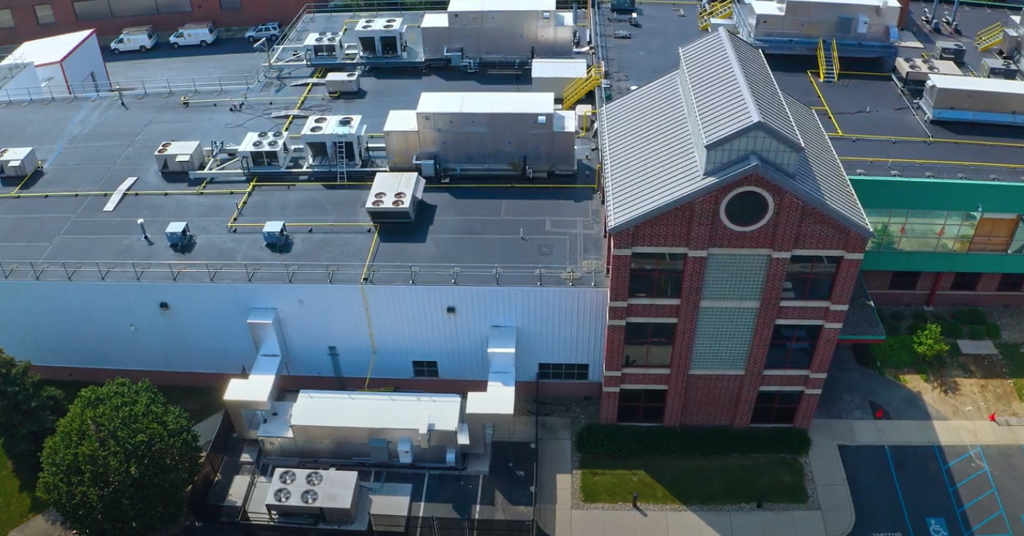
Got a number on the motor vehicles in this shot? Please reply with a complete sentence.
My tally gives 3 motor vehicles in this view.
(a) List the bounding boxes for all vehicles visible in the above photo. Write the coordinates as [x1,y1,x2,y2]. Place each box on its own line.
[244,19,288,41]
[108,25,161,53]
[170,21,222,48]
